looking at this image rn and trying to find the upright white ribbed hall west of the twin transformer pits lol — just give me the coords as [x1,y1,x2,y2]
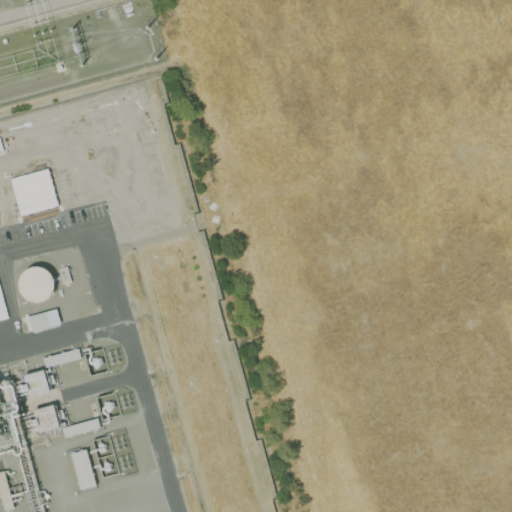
[71,450,96,491]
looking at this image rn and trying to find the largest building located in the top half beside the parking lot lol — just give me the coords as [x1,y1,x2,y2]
[12,164,60,221]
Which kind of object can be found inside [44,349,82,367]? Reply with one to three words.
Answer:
building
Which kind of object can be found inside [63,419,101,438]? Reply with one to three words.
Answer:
building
